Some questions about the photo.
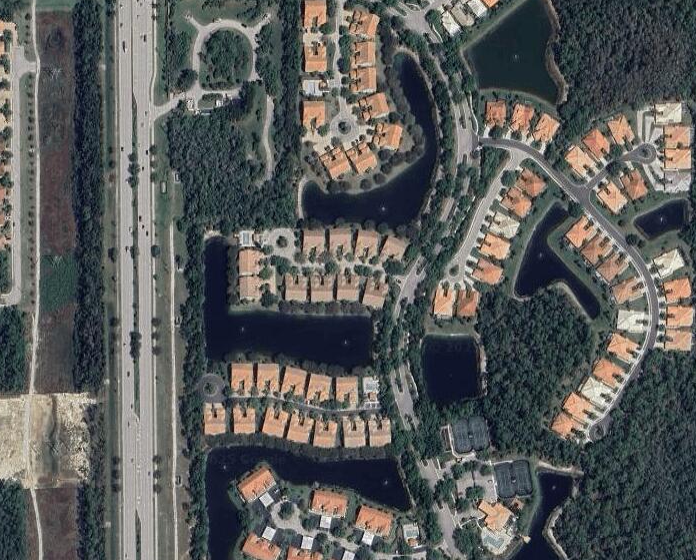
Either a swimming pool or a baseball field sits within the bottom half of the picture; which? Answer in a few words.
swimming pool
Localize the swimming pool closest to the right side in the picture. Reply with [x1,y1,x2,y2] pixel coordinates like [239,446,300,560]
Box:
[481,529,512,555]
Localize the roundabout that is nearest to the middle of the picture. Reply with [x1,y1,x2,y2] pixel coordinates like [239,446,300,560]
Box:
[265,225,298,258]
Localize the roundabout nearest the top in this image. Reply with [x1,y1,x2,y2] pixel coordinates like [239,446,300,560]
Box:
[327,112,358,143]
